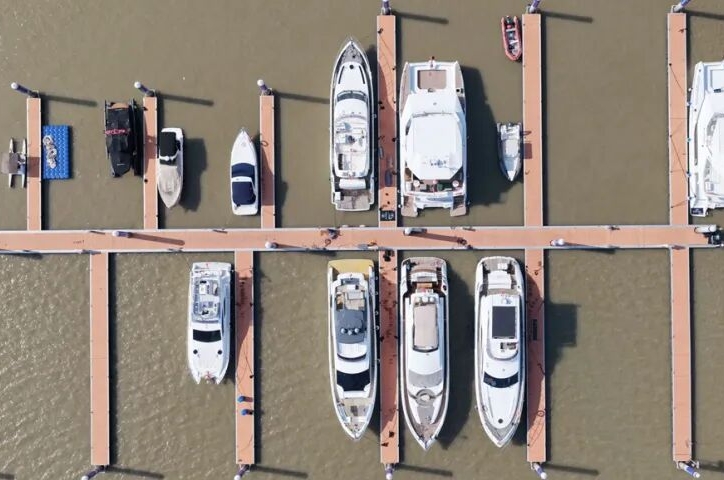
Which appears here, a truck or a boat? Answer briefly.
boat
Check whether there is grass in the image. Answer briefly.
No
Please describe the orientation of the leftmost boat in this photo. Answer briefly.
up and down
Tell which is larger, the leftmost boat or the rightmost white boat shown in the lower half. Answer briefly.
the rightmost white boat shown in the lower half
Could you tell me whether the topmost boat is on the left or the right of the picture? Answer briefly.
right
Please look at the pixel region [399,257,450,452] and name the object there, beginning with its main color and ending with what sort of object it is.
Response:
white boat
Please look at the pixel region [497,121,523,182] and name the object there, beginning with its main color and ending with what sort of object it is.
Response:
white boat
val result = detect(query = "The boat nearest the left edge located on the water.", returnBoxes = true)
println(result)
[1,137,27,189]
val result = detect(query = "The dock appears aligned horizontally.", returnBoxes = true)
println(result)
[0,226,707,252]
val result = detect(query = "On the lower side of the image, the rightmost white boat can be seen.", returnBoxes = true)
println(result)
[474,257,525,447]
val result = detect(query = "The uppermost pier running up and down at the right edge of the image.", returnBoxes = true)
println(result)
[666,4,689,226]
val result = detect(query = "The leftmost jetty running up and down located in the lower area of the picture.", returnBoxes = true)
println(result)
[90,252,110,474]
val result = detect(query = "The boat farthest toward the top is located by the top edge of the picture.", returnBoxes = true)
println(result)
[500,16,520,60]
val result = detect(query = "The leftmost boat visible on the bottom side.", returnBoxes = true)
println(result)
[190,262,233,385]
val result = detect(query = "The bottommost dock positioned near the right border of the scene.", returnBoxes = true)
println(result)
[670,247,691,469]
